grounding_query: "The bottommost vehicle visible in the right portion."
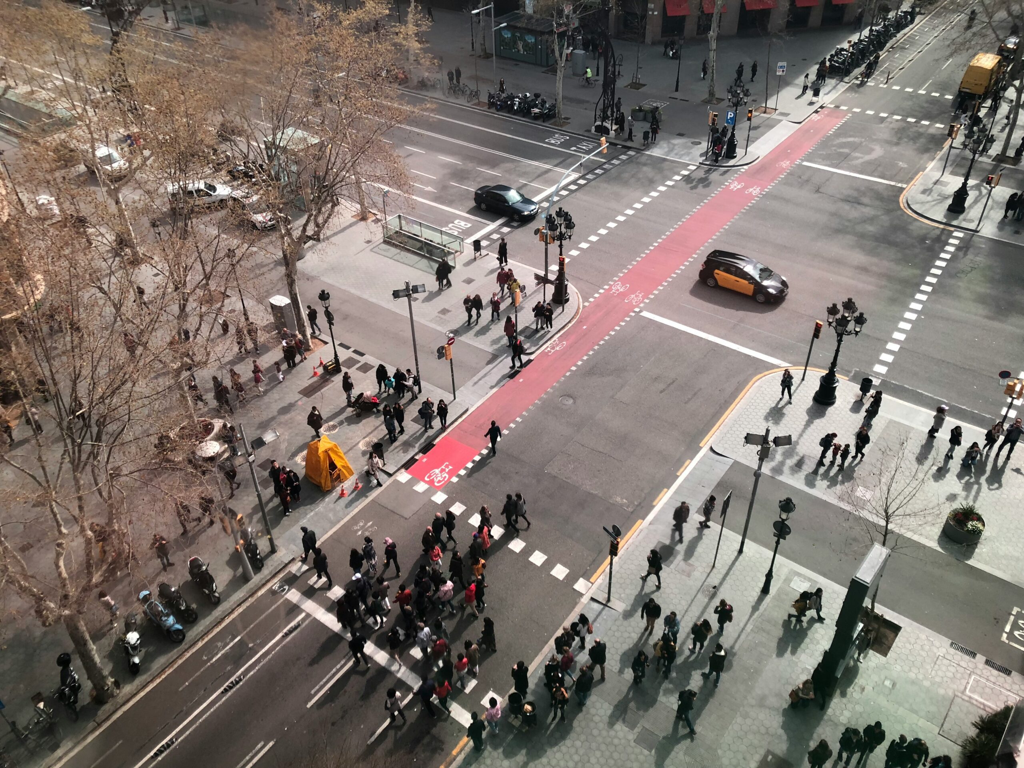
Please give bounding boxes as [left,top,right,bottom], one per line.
[700,244,795,302]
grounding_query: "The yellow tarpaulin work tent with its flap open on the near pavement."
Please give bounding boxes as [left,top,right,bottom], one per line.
[305,427,358,491]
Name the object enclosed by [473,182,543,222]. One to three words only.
car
